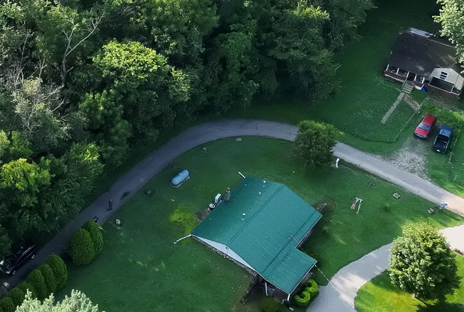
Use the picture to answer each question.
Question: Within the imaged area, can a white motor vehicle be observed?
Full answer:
No, I can see no white motor vehicle in this picture.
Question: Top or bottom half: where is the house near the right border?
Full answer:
Seen from above, the house near the right border lies in the top half of the view.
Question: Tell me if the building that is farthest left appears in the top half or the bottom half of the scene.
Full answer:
The bottom half of the photo is where the building that is farthest left is.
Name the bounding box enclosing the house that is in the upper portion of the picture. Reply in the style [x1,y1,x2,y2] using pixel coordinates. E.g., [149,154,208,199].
[386,28,464,100]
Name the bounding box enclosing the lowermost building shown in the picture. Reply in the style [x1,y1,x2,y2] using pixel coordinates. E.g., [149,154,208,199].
[178,177,325,302]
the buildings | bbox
[178,177,325,302]
[386,28,464,100]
